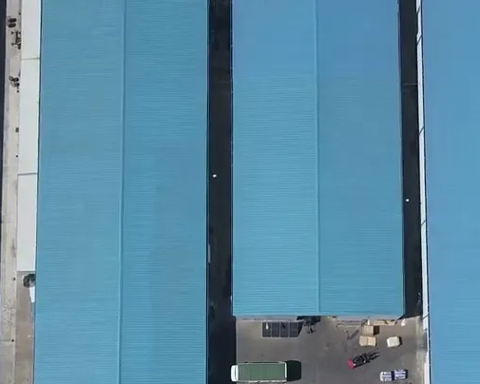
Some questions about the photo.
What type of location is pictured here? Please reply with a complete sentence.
This image shows an industrial area.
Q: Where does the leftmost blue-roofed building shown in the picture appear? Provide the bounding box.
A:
[31,0,210,384]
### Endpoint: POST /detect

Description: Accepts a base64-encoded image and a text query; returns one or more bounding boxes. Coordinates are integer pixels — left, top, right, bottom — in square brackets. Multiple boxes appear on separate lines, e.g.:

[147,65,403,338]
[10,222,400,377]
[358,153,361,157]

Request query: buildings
[31,0,210,384]
[230,0,406,320]
[416,0,480,384]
